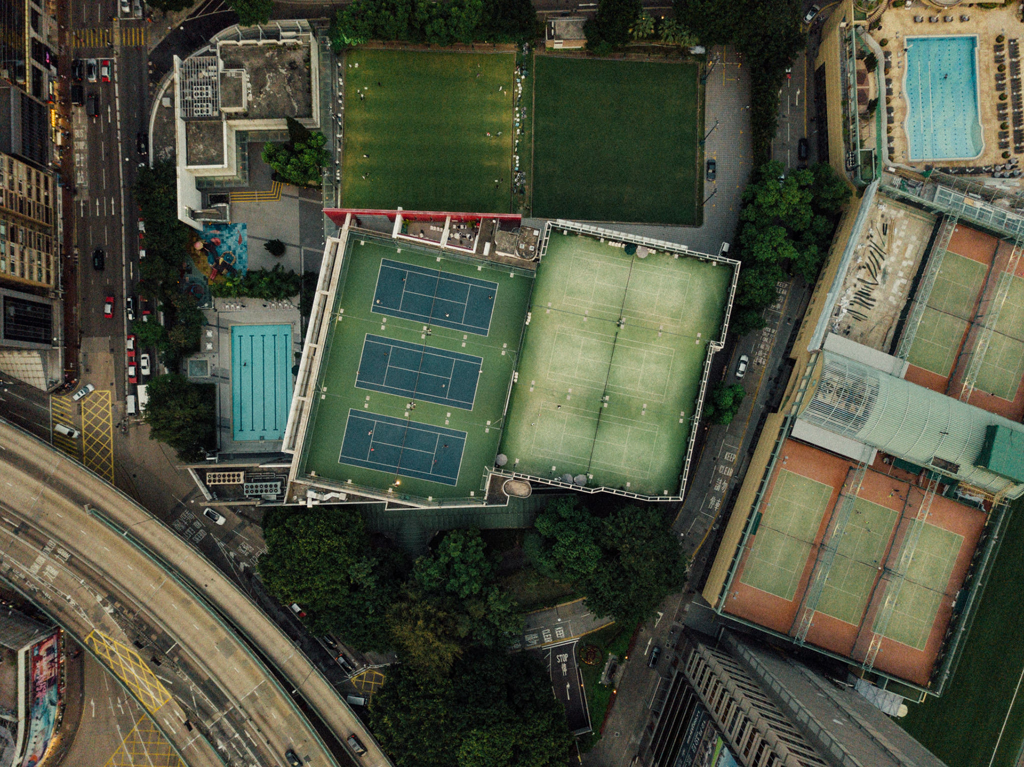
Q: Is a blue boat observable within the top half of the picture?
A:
No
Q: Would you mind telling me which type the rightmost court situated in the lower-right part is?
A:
tennis court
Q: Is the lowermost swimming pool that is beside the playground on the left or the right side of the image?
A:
left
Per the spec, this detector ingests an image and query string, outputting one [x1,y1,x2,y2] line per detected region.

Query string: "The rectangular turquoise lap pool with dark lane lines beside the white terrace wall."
[229,321,295,443]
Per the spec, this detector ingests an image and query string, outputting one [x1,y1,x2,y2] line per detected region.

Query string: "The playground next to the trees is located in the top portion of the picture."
[183,223,247,307]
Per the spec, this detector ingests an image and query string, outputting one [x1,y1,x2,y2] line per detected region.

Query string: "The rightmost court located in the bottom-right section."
[871,518,964,651]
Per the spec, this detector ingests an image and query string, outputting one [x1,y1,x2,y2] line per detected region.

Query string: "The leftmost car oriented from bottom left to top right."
[71,383,95,401]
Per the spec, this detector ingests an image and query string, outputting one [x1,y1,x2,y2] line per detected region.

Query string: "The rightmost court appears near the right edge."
[961,271,1024,401]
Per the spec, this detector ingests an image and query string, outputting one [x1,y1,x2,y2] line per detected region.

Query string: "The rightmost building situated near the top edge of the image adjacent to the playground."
[147,17,323,243]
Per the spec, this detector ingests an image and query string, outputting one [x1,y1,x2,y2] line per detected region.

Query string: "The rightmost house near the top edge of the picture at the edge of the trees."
[545,16,587,55]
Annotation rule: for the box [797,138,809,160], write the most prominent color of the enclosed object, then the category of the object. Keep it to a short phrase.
black vehicle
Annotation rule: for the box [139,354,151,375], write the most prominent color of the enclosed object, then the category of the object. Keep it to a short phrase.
white vehicle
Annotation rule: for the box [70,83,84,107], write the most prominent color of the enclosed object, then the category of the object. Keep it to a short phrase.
black vehicle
